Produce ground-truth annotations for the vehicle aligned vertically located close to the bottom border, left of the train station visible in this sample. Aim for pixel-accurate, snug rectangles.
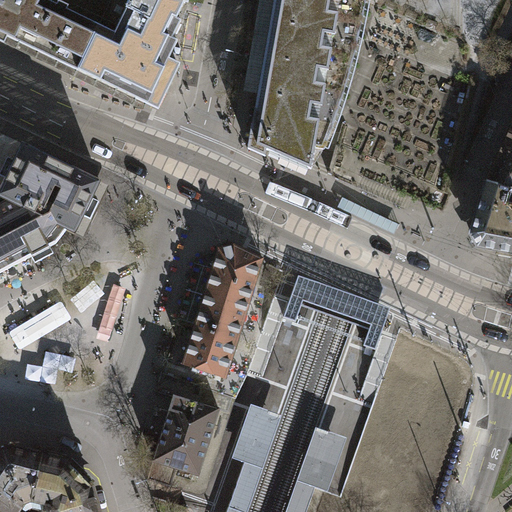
[96,486,108,510]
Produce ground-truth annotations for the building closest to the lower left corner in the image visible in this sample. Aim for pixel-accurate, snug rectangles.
[0,440,99,512]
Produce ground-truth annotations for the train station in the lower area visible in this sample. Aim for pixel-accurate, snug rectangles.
[202,276,402,512]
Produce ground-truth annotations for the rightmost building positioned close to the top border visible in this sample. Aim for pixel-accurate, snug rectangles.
[239,0,372,174]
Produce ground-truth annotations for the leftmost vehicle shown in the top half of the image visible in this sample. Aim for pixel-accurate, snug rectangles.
[90,142,113,158]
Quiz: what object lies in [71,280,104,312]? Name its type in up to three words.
tent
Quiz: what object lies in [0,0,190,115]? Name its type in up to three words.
building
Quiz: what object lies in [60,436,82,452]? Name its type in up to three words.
car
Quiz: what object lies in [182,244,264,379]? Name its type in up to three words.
house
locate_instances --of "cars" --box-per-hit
[126,160,150,177]
[96,486,108,510]
[60,436,82,452]
[484,327,508,342]
[178,182,200,198]
[408,254,432,270]
[90,142,113,158]
[370,237,394,254]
